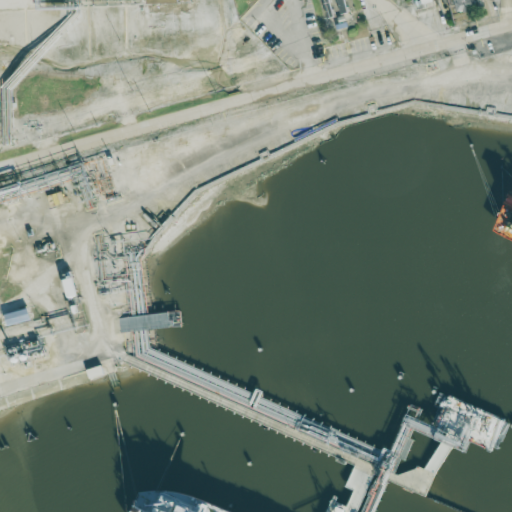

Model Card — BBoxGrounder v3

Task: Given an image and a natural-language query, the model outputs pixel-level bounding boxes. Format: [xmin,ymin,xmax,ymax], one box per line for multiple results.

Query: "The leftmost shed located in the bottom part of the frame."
[3,306,30,326]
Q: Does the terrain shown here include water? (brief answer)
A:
Yes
